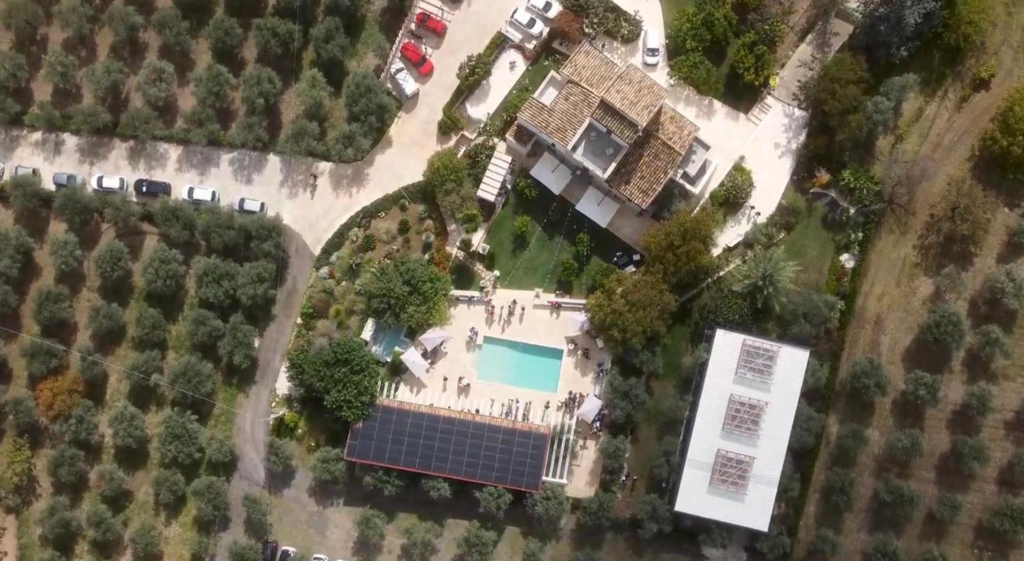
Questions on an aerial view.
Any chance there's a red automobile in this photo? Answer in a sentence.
Yes, the picture does show a red automobile.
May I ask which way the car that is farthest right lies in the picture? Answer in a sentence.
The car that is farthest right has been laid out from top to bottom relative to the frame.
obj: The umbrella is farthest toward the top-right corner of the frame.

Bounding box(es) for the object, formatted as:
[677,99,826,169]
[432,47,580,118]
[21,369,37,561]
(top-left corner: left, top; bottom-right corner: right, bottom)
[575,185,619,228]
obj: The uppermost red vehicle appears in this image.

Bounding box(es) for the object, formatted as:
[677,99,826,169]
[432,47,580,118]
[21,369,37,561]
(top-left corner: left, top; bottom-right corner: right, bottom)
[414,11,449,38]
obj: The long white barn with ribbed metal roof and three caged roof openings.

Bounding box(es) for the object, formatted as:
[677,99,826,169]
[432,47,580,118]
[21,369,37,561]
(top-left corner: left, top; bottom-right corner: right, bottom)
[667,328,810,531]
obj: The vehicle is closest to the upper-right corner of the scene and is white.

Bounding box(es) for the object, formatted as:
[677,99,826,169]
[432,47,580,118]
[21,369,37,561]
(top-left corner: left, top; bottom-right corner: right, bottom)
[642,27,662,67]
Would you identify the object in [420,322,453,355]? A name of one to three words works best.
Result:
umbrella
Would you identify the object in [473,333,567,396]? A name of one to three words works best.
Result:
swimming pool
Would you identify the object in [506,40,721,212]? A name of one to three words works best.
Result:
house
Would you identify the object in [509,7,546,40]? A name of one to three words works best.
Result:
car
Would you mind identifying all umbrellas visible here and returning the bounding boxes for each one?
[420,322,453,355]
[400,345,431,377]
[575,185,619,228]
[564,312,591,336]
[529,151,572,195]
[575,392,604,425]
